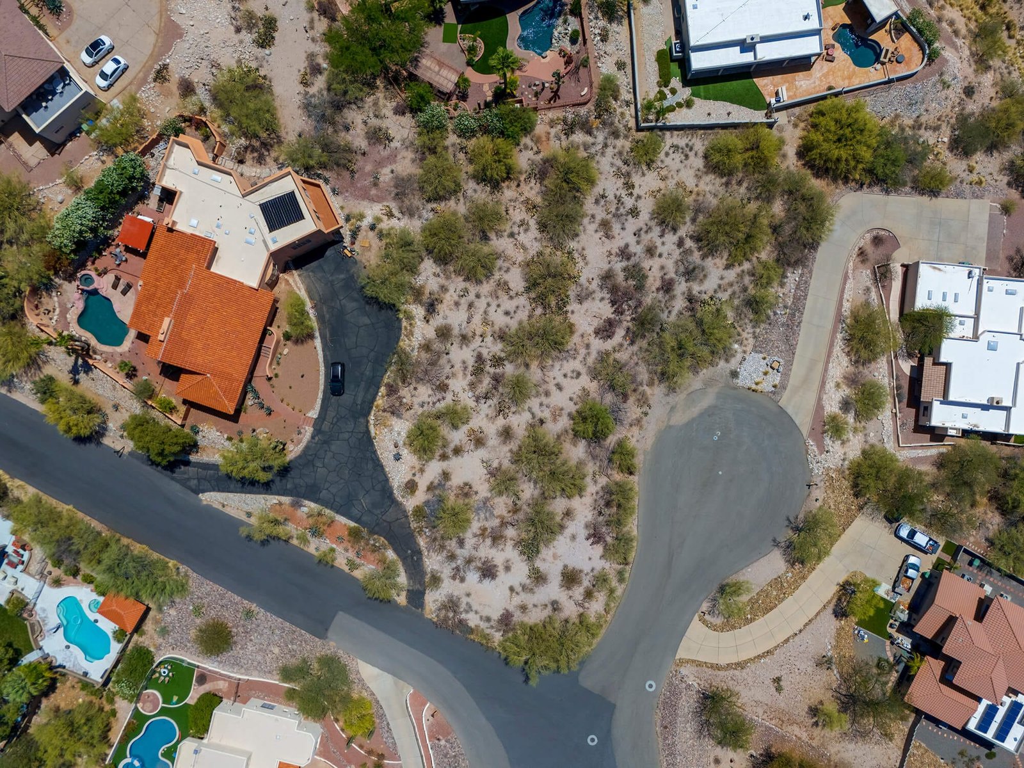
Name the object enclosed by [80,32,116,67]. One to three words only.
car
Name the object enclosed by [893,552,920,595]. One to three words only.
truck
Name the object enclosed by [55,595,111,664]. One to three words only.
swimming pool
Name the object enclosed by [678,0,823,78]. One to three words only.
house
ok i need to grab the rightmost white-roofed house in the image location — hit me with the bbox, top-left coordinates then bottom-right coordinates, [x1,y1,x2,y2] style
[901,261,1024,437]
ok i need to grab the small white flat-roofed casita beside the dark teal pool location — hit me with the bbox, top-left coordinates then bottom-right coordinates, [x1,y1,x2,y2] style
[845,0,899,33]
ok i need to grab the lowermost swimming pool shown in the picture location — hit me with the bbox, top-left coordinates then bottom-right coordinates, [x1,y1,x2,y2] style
[123,715,180,768]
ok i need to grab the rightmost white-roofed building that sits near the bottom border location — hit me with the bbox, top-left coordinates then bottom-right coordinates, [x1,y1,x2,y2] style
[173,689,328,768]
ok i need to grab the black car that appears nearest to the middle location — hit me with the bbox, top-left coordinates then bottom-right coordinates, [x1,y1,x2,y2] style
[328,361,345,396]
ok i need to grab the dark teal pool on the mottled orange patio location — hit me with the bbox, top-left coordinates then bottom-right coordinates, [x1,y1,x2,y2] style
[832,22,882,68]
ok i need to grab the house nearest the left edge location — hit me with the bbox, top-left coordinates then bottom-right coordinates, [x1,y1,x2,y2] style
[0,0,102,144]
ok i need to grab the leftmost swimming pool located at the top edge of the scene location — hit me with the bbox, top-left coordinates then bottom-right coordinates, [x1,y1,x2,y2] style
[516,0,569,56]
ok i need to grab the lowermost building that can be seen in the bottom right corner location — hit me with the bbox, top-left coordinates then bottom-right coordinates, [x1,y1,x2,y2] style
[899,566,1024,753]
